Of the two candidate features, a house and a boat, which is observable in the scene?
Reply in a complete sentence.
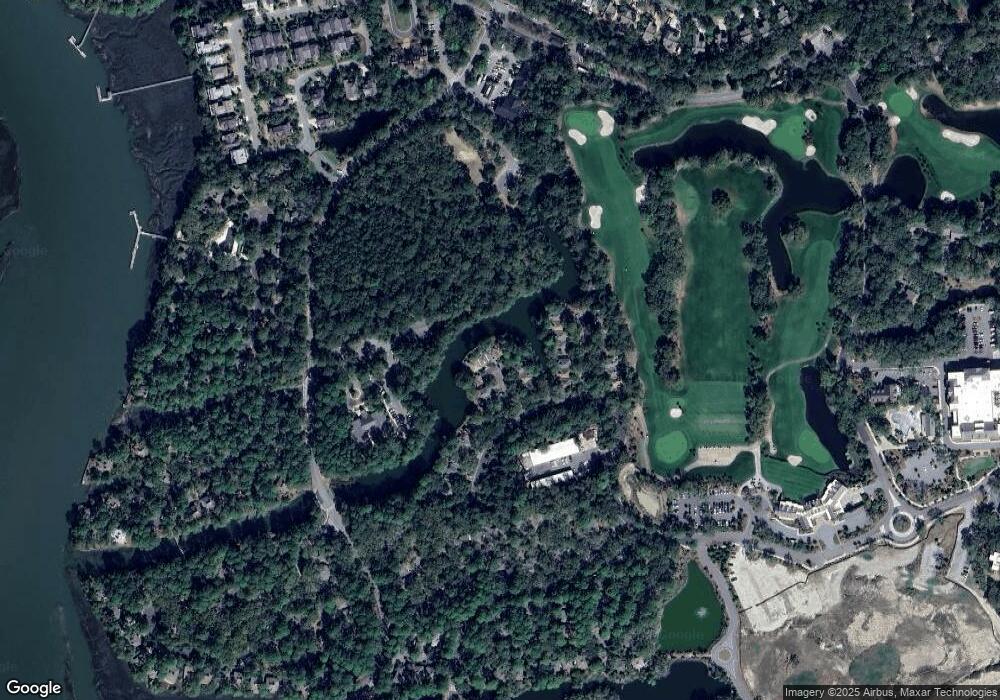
I can see a house in this picture.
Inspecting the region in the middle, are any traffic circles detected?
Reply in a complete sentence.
No, in the middle there is no traffic circle.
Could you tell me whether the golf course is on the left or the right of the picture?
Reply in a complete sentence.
You can find the golf course on the right side of the picture.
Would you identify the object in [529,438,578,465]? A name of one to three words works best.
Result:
building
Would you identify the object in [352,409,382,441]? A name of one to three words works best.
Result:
house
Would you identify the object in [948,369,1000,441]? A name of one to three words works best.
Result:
building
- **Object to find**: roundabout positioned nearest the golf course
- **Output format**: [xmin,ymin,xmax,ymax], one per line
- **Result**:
[883,505,921,543]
